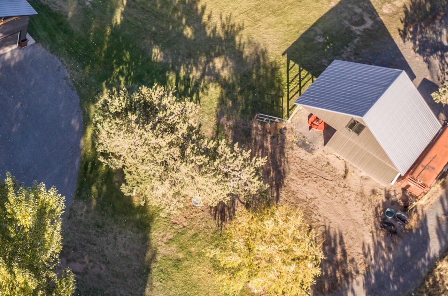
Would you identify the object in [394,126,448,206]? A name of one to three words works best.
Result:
trailer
